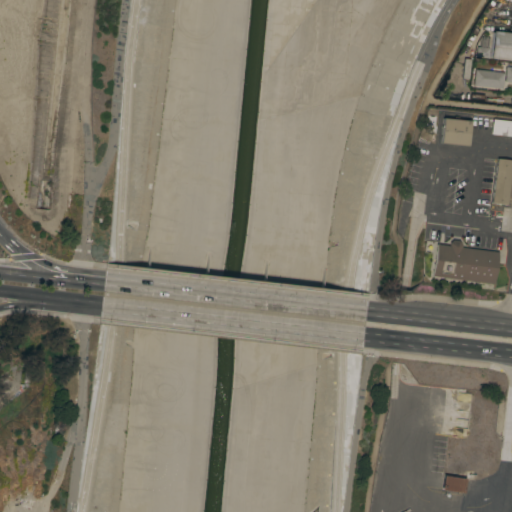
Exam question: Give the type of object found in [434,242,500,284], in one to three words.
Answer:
building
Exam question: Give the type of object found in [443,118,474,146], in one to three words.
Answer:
building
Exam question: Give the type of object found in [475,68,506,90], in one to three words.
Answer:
house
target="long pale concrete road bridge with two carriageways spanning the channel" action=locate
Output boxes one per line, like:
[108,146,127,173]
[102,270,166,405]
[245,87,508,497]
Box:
[100,257,370,355]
